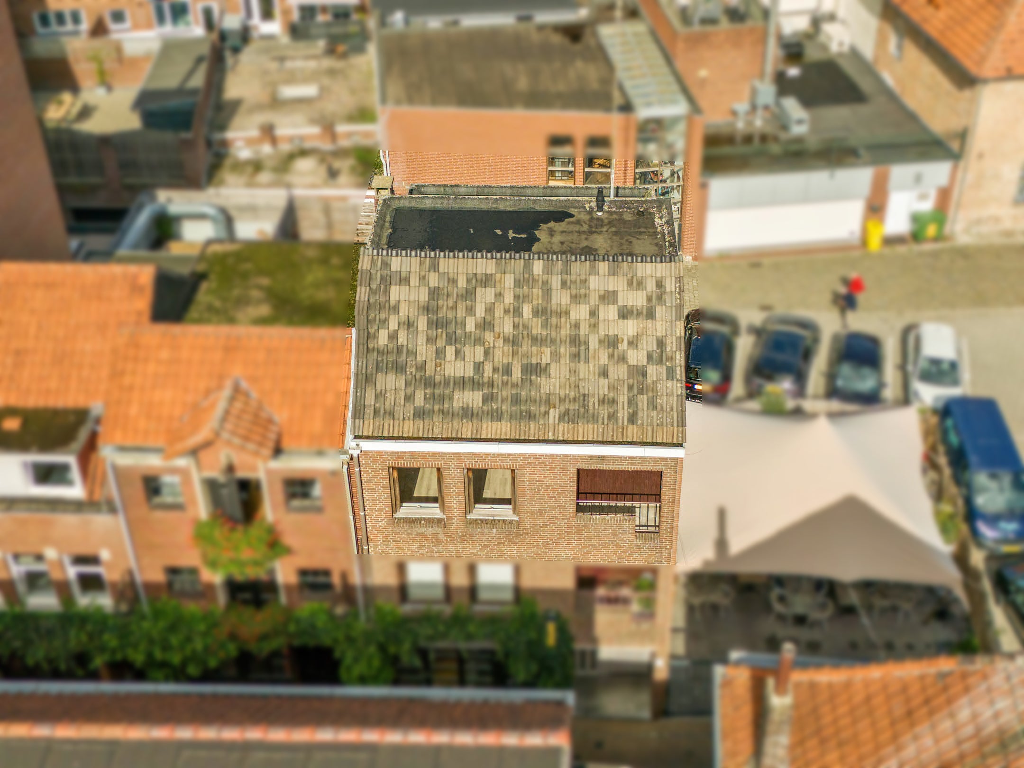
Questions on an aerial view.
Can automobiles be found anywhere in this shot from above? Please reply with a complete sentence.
Yes, there is an automobile in the image.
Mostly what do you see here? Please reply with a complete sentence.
The scene is dominated by buildings.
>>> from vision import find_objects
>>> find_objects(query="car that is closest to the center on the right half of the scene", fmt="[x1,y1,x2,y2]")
[685,322,749,404]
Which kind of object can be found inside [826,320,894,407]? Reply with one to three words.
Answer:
car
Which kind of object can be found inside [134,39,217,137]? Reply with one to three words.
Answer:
shed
